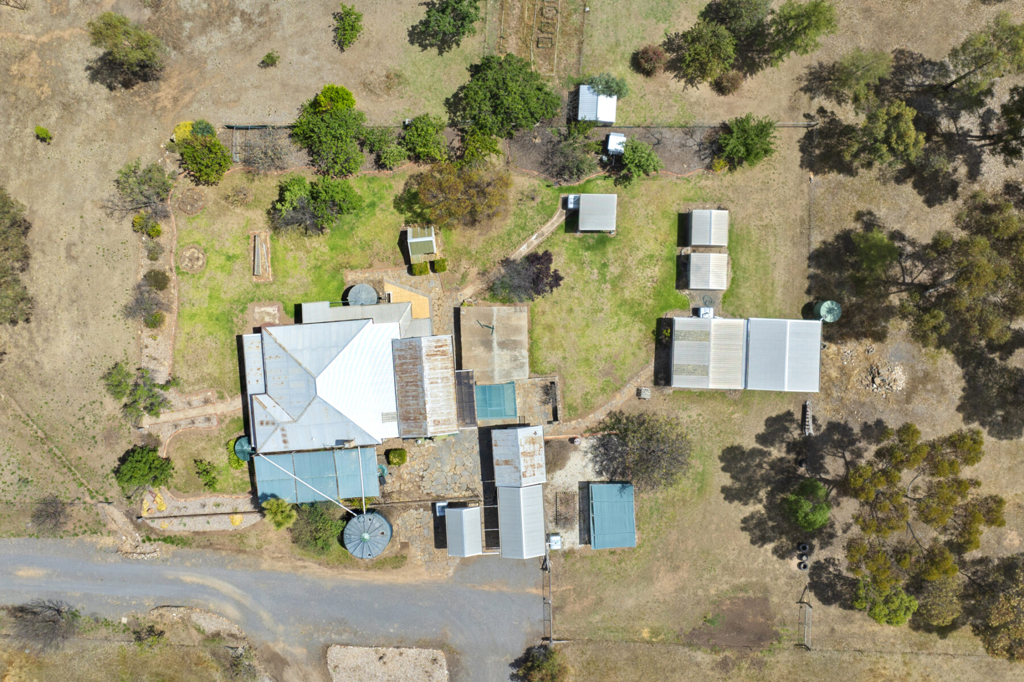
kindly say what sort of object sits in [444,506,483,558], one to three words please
shed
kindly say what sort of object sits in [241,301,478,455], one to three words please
house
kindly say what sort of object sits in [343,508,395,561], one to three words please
water tank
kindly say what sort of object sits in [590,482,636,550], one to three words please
shed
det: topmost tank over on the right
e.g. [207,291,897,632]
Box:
[814,300,842,322]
